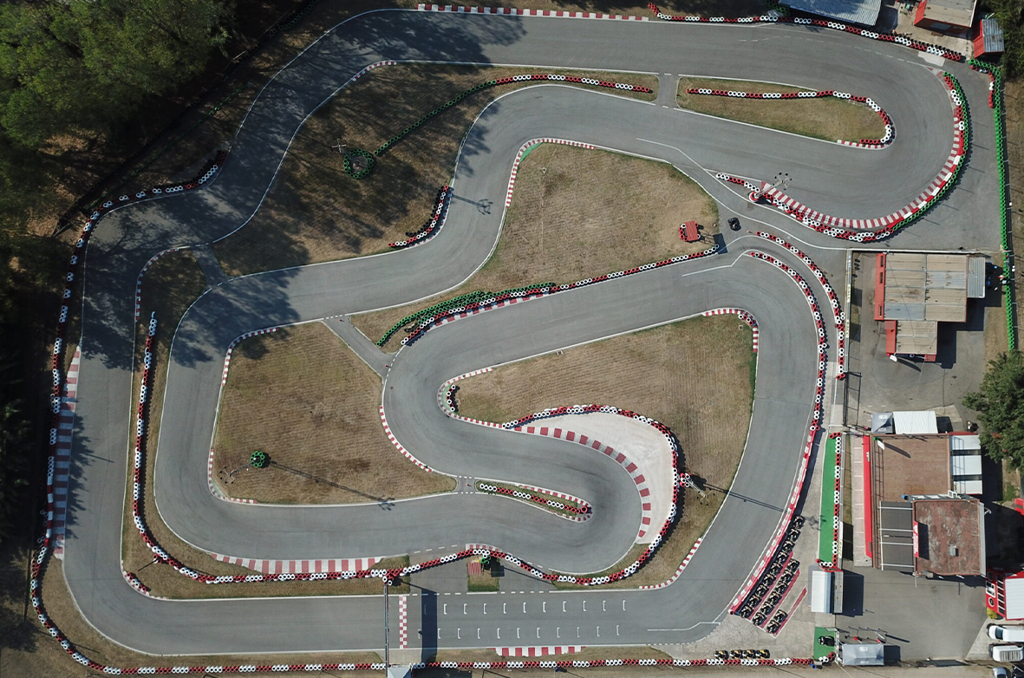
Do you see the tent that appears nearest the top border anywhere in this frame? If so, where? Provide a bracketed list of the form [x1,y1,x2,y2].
[864,411,893,433]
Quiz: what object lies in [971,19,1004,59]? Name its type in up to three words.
building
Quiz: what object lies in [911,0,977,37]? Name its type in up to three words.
shed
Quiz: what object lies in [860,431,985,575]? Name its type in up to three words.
building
